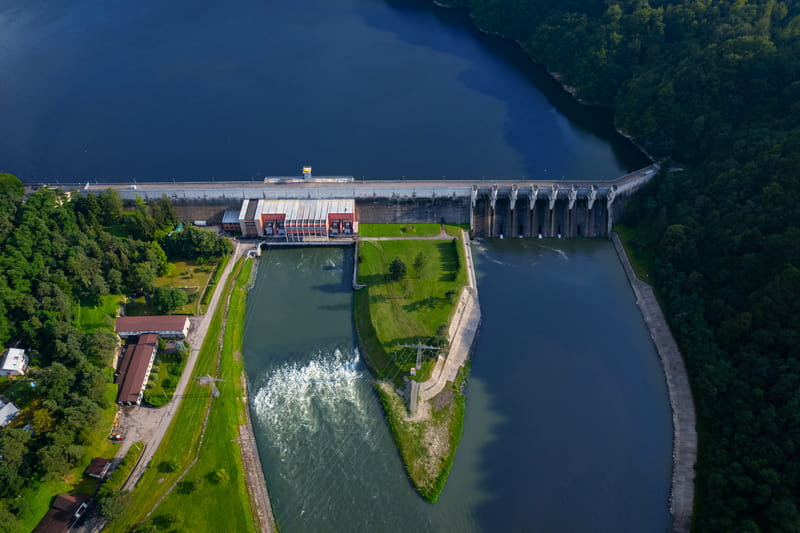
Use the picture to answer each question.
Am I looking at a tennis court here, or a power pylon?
power pylon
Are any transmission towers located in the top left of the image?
No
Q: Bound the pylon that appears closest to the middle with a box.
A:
[397,342,442,372]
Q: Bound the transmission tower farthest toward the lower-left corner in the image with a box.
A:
[192,374,227,398]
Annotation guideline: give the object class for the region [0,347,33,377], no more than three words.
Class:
house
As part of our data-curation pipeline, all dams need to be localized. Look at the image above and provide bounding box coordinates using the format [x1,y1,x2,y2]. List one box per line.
[2,158,661,241]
